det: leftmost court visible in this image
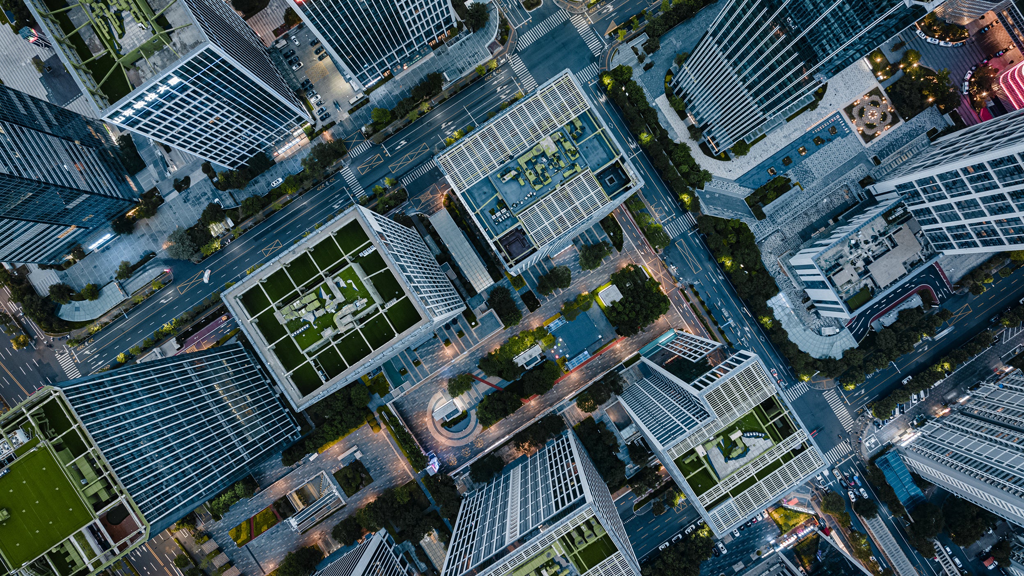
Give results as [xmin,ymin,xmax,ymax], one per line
[550,302,618,360]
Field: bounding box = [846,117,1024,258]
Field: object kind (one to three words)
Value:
building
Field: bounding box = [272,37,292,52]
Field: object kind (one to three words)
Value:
vehicle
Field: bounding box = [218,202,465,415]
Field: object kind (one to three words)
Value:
building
